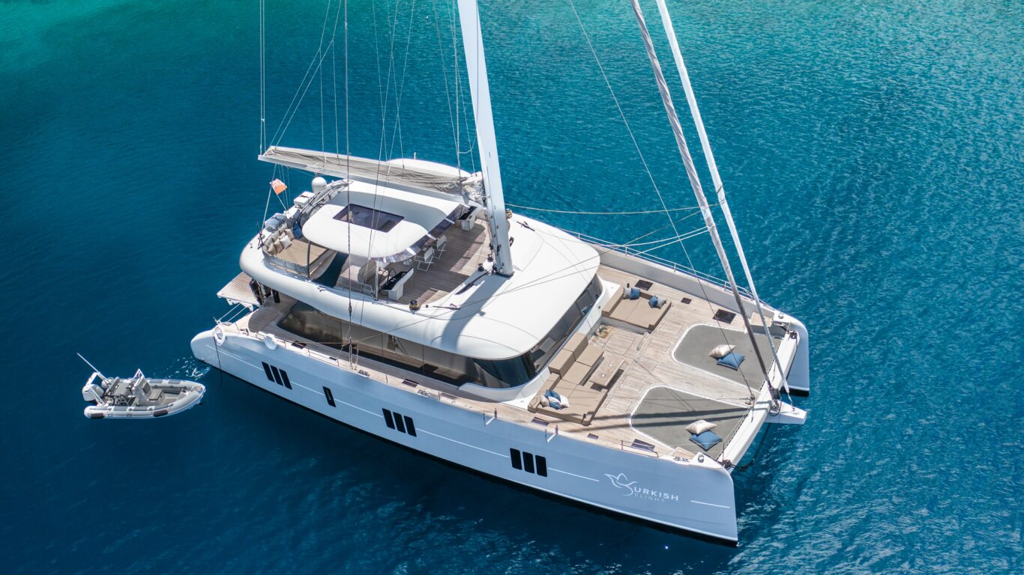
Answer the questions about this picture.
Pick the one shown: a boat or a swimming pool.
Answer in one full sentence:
I can see a boat in this picture.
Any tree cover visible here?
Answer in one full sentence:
No, there's no tree cover in this view.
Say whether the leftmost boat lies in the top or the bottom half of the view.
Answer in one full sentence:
The bottom half of the photo is where the leftmost boat is.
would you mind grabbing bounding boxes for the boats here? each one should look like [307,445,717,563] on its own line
[192,0,811,545]
[73,353,206,422]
